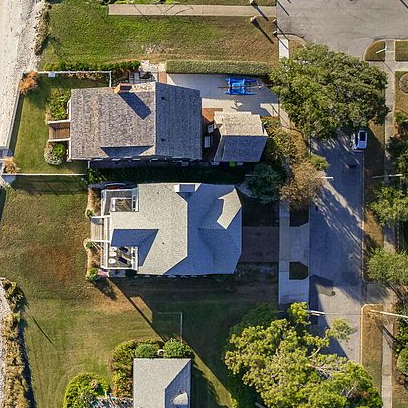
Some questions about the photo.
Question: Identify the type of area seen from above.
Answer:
residential area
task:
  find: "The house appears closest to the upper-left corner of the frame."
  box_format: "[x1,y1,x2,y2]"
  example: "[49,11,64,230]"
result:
[48,82,202,164]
